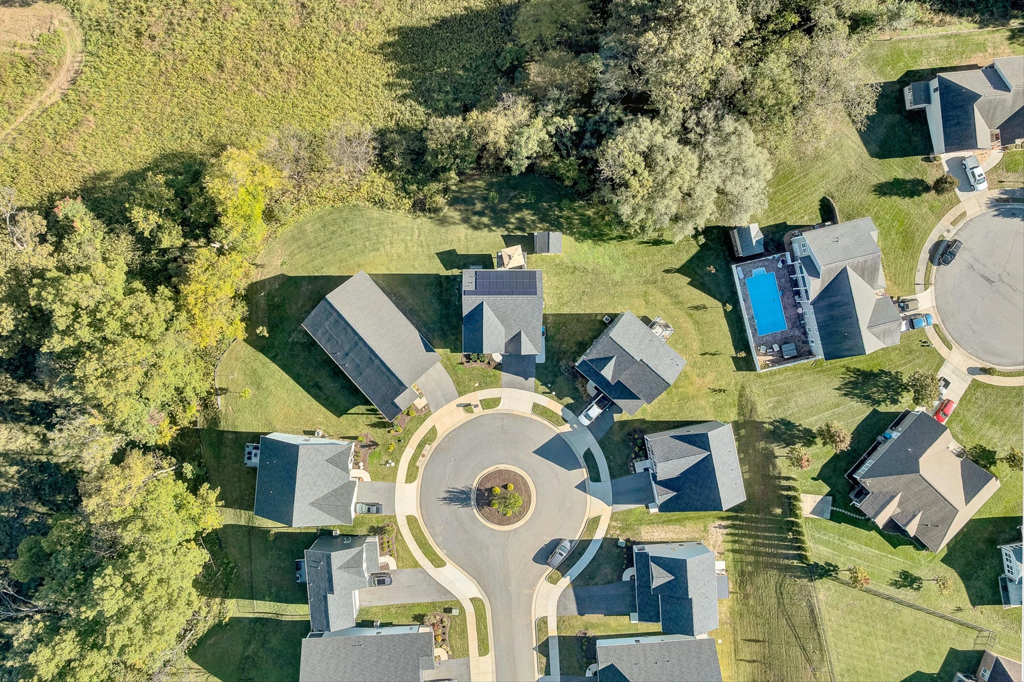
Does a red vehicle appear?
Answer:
Yes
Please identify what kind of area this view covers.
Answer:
residential area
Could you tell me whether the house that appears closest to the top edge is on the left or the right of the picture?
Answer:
right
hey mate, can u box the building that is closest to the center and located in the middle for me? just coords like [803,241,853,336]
[462,269,543,355]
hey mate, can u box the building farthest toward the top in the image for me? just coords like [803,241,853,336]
[903,56,1024,153]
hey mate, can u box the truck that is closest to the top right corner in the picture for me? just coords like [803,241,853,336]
[962,156,988,190]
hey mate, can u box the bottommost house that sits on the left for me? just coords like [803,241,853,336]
[302,619,441,682]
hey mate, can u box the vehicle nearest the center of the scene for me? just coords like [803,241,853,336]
[580,395,613,425]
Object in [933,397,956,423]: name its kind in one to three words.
car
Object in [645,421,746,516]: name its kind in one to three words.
house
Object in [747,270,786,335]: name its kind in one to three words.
swimming pool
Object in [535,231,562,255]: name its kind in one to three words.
shed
